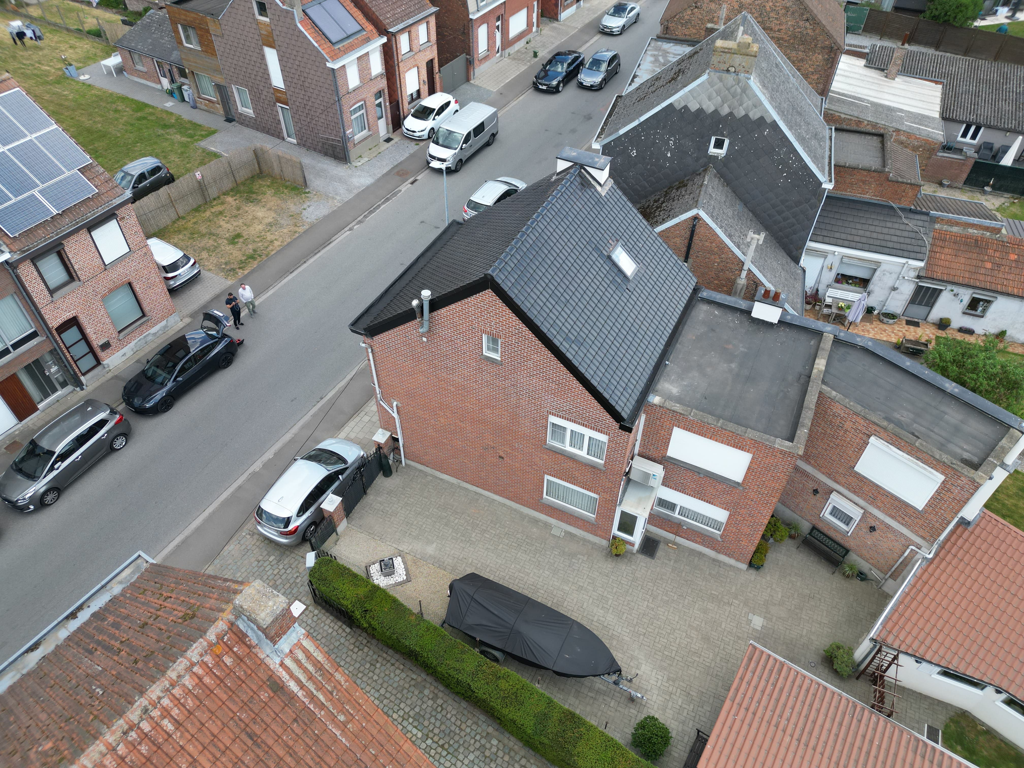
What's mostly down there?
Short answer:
buildings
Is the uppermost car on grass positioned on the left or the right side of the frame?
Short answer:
left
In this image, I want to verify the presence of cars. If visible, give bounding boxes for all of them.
[401,94,456,138]
[577,50,622,89]
[0,401,134,518]
[111,151,178,200]
[115,309,239,420]
[532,52,585,93]
[151,236,205,296]
[463,177,529,227]
[247,435,365,553]
[599,4,640,35]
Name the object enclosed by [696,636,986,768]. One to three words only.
building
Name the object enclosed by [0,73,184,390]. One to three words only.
house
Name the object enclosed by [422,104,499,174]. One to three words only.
van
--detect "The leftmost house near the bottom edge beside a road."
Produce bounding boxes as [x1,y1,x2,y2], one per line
[0,552,433,768]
